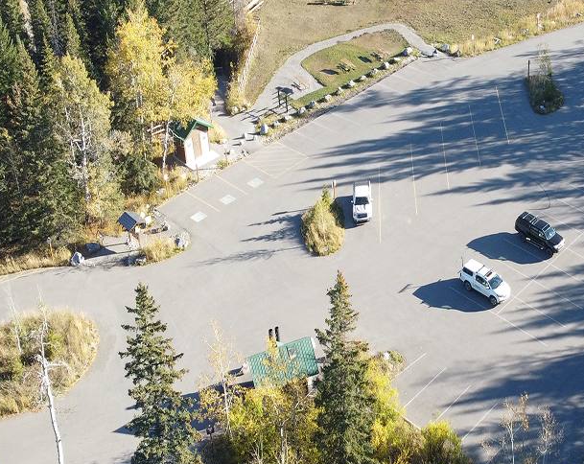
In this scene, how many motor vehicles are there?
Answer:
3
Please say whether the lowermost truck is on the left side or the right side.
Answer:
right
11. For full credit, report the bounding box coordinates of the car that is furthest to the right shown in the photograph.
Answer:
[519,217,567,253]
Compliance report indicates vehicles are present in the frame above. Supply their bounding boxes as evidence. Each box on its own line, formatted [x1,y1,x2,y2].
[459,263,514,305]
[349,185,372,218]
[519,217,567,253]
